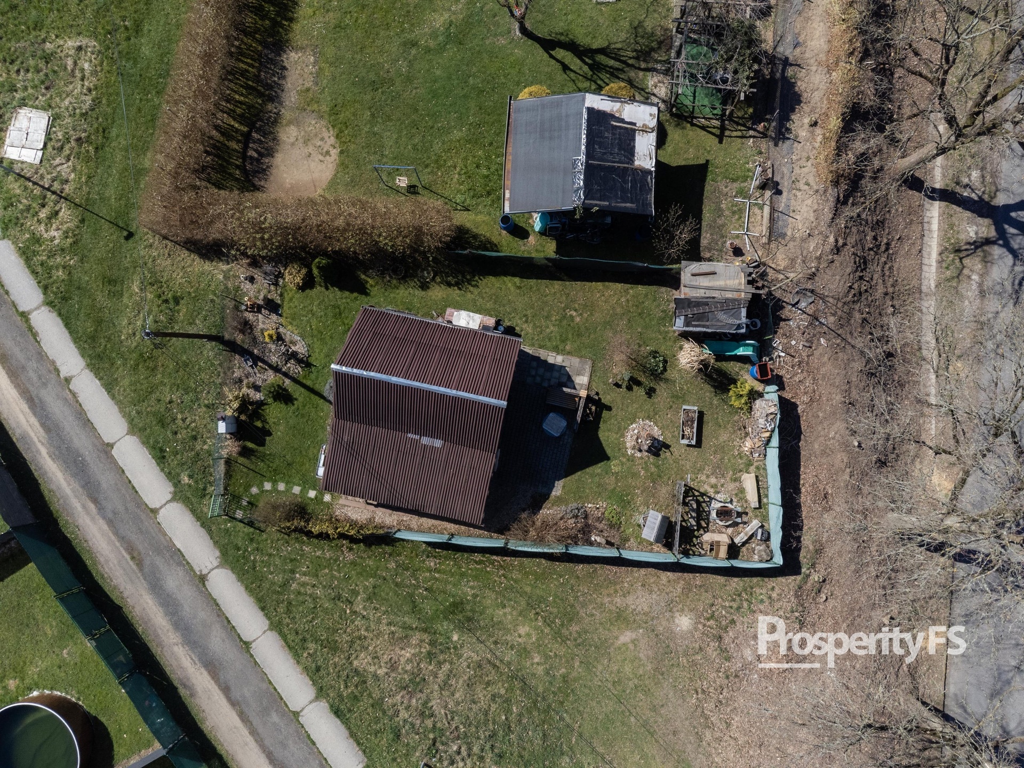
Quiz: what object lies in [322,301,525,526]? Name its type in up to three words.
house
